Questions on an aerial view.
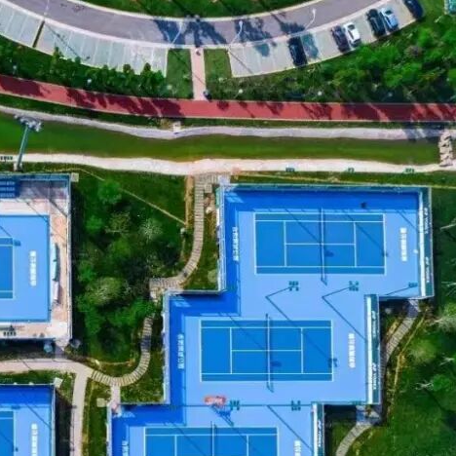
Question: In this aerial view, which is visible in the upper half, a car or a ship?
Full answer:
Visible in the upper half is a car.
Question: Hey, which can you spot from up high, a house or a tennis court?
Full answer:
Visible in the photo is a tennis court.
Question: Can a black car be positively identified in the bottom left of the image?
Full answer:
No, looking in the bottom left of the image, there is no black car.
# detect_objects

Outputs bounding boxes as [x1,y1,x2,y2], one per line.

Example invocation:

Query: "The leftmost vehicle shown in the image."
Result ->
[290,38,306,65]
